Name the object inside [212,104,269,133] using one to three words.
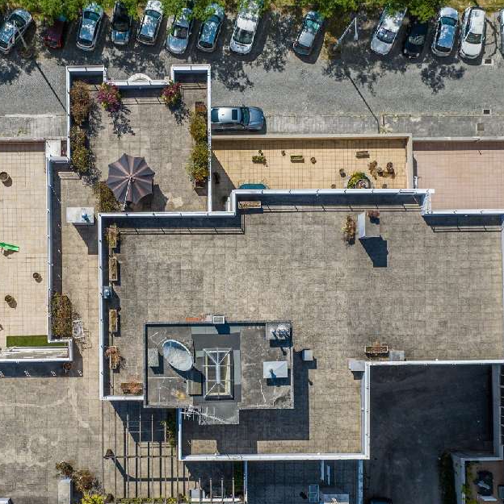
car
